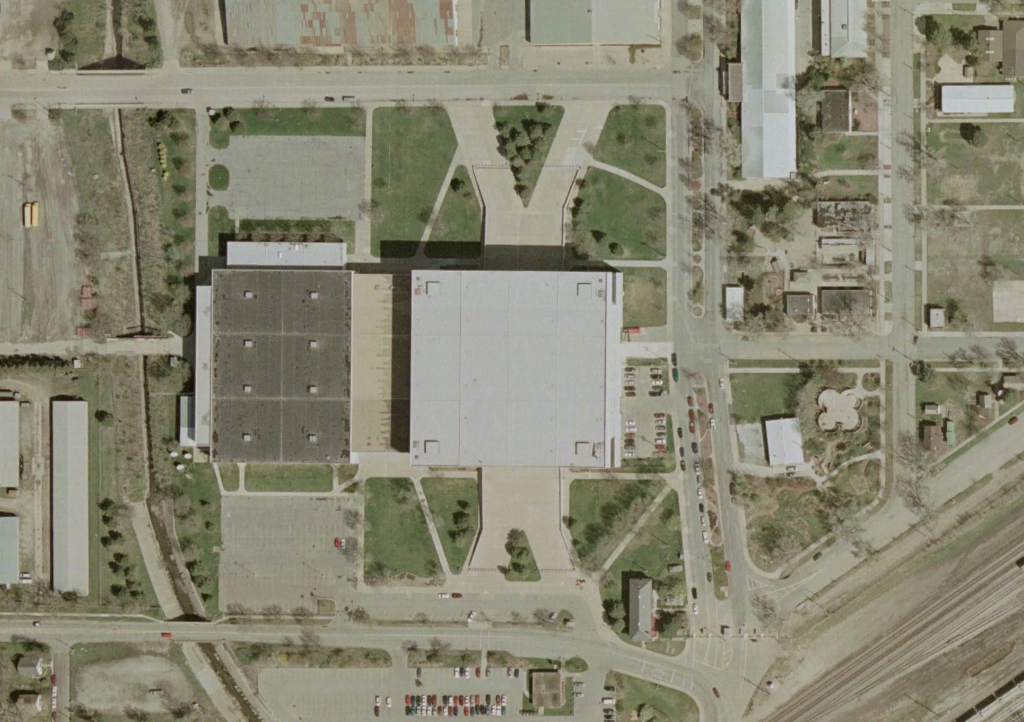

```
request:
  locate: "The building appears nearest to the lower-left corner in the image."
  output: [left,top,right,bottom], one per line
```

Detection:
[14,695,40,715]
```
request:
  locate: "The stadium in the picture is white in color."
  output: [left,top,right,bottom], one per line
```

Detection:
[410,270,621,468]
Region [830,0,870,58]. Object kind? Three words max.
building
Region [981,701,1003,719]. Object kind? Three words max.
rail car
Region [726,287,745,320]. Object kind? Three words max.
house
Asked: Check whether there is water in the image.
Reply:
No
